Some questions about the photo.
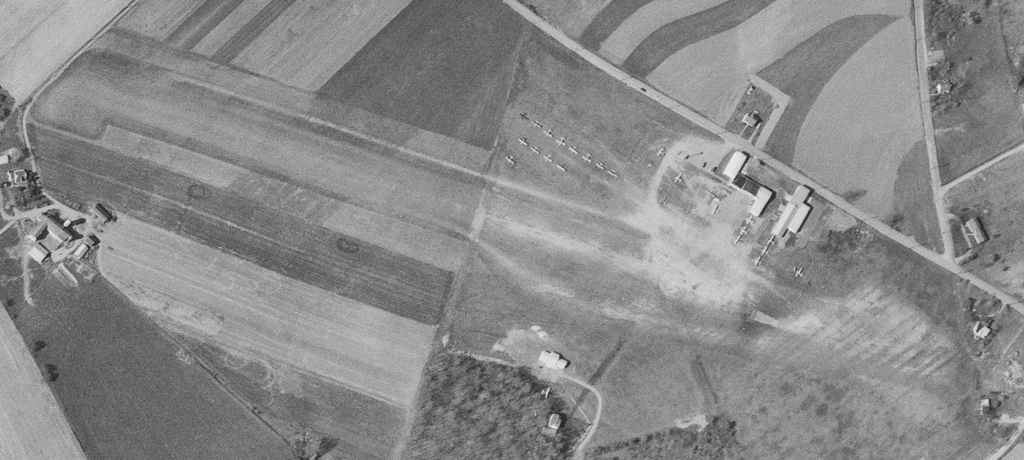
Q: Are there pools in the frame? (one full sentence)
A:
No, there isn't any pool down there.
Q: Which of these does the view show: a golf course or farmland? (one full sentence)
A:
This image shows farmland.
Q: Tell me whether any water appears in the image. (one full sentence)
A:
No, there is no water in the image.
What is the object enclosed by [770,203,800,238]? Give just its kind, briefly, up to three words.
hangar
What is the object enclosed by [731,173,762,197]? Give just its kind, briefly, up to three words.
building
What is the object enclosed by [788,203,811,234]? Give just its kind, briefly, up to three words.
hangar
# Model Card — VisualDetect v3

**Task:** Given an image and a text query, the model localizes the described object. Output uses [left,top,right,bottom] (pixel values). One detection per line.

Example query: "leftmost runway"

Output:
[34,52,486,240]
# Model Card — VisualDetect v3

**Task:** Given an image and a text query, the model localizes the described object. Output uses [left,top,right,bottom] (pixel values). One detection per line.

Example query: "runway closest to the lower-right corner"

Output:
[443,182,795,352]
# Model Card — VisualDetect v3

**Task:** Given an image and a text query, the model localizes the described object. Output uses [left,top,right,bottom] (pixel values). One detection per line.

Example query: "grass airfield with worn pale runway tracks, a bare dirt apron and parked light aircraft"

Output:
[34,29,795,352]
